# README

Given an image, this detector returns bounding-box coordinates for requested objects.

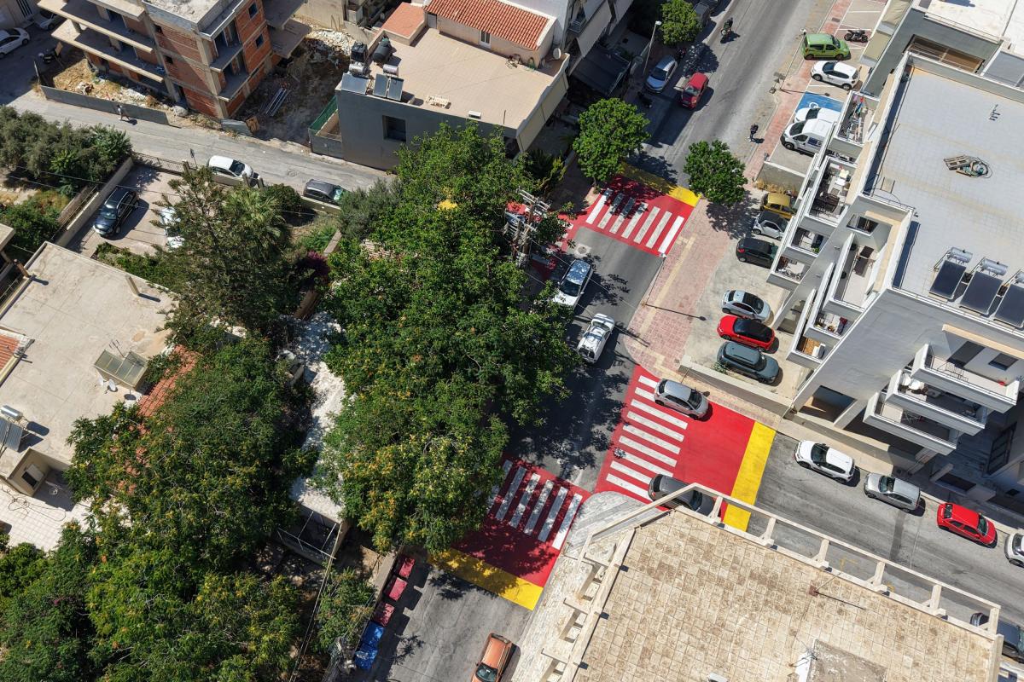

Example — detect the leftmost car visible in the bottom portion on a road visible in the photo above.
[464,627,514,682]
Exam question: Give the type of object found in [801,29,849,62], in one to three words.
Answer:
vehicle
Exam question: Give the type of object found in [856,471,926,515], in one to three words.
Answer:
car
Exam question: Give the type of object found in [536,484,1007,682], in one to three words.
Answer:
building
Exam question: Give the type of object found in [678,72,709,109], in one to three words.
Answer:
car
